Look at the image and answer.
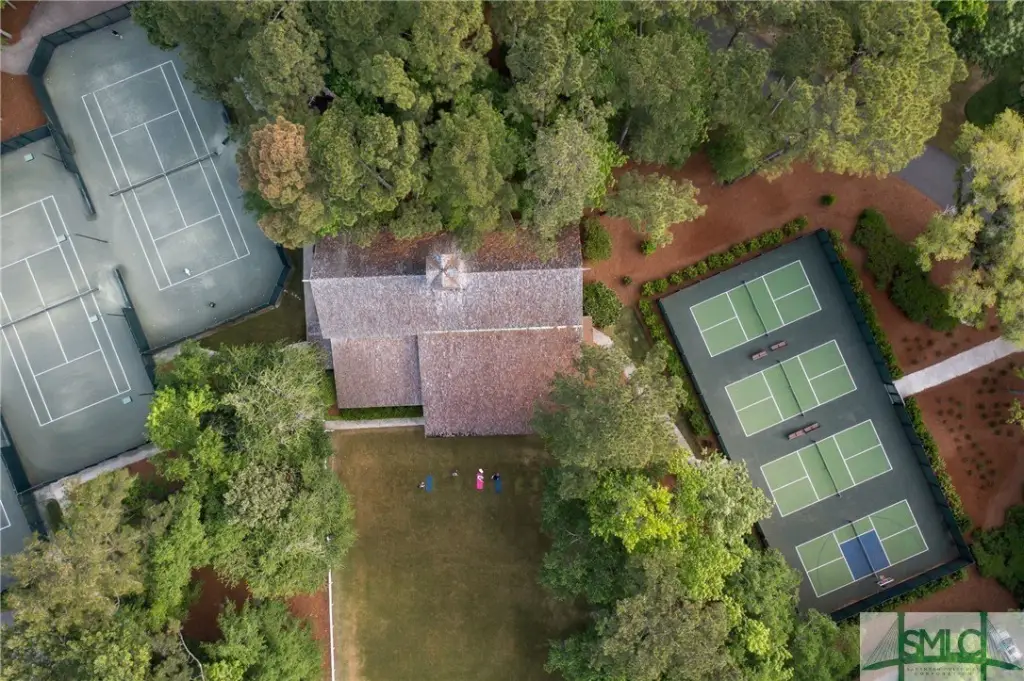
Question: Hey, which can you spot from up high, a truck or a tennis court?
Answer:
tennis court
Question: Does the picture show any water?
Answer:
No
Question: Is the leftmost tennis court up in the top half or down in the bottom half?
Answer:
bottom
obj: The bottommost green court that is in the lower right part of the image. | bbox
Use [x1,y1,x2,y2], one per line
[797,500,927,596]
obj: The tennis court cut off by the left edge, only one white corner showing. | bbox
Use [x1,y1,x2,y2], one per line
[0,440,49,592]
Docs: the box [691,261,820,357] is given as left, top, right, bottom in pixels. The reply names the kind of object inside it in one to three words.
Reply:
sports court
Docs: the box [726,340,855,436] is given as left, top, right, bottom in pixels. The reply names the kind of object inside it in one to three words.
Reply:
sports court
